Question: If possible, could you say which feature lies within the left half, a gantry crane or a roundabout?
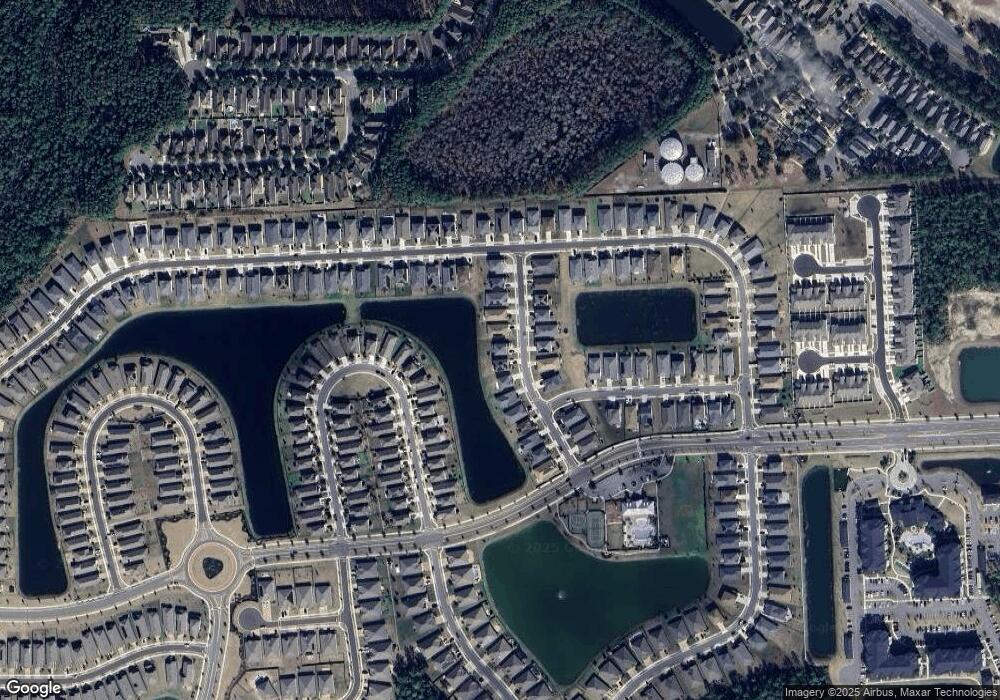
roundabout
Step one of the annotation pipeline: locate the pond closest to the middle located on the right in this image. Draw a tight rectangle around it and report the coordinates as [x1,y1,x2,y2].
[576,287,697,347]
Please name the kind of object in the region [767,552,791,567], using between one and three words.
house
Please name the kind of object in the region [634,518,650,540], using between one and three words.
swimming pool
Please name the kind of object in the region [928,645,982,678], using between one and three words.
building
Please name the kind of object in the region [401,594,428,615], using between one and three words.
house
